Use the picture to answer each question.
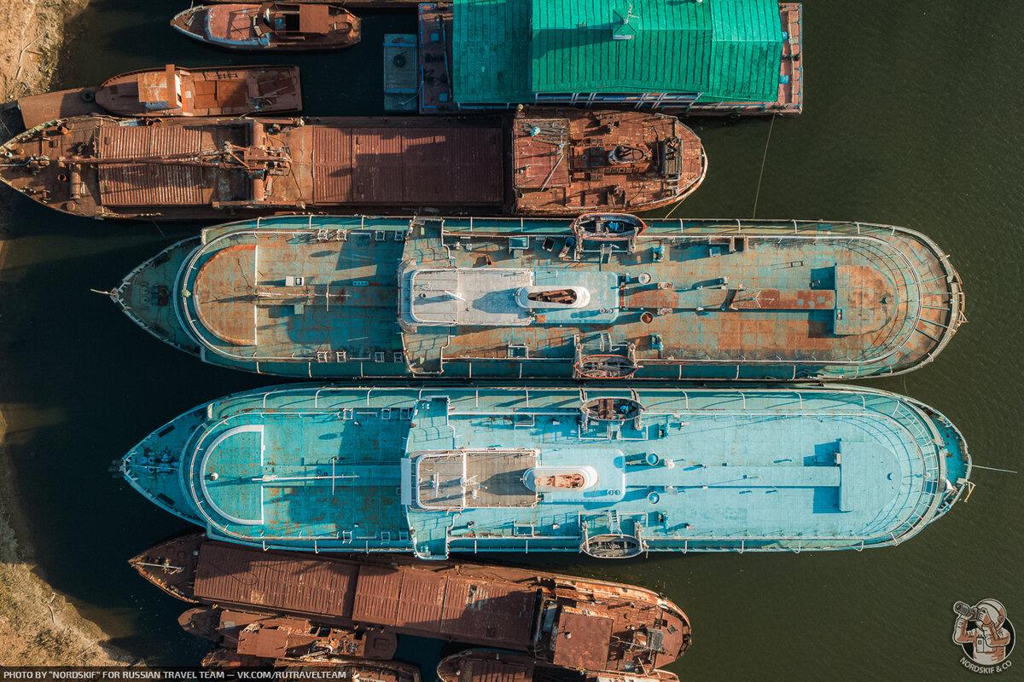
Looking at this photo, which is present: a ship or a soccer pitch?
ship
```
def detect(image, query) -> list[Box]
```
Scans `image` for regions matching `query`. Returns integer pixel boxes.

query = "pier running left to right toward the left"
[18,86,125,128]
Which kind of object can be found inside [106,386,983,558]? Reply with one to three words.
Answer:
ship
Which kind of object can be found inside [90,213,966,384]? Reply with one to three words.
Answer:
ship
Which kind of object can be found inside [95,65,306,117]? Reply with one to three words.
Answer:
boat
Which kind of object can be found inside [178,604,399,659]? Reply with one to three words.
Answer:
boat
